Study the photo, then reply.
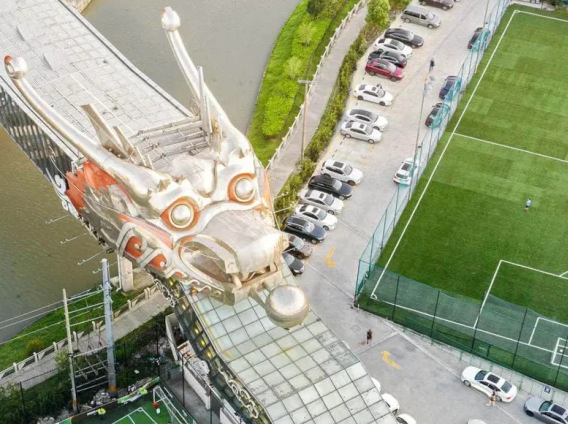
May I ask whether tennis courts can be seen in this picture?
No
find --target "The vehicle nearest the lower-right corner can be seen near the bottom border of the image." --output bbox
[523,399,568,424]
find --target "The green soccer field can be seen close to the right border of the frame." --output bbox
[356,3,568,391]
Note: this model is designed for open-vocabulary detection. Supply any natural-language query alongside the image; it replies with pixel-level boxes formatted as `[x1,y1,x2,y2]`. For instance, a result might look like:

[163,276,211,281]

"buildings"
[154,259,407,424]
[0,0,192,320]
